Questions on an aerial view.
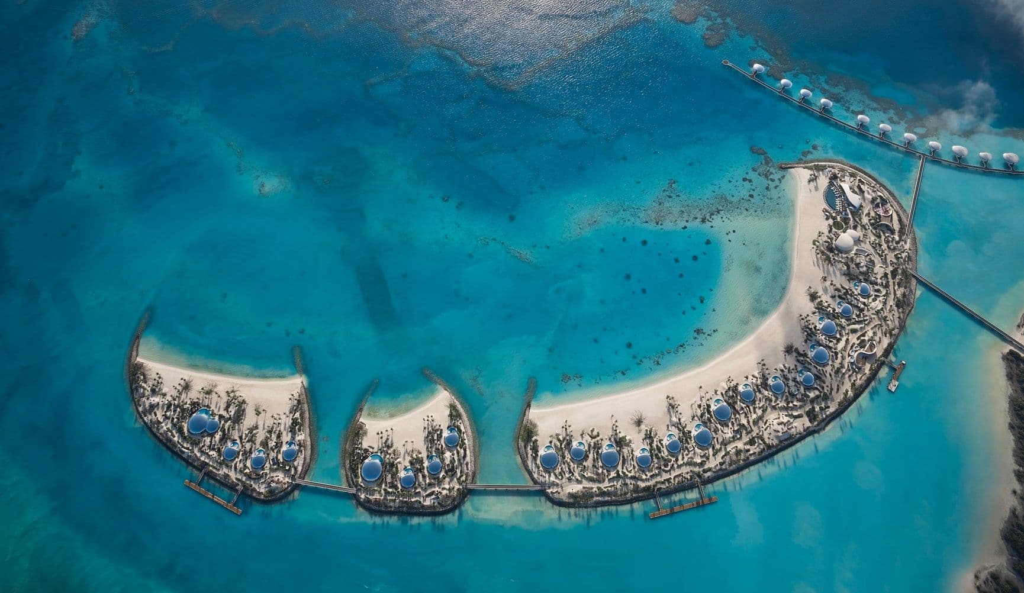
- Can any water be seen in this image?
Yes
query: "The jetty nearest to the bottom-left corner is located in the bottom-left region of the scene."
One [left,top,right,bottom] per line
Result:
[185,468,242,514]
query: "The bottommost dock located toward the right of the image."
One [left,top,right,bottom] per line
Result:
[649,481,718,518]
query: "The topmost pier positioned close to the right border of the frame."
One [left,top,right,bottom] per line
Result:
[723,59,1024,175]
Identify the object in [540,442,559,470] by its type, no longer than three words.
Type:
house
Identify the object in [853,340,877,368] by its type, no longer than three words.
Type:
building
